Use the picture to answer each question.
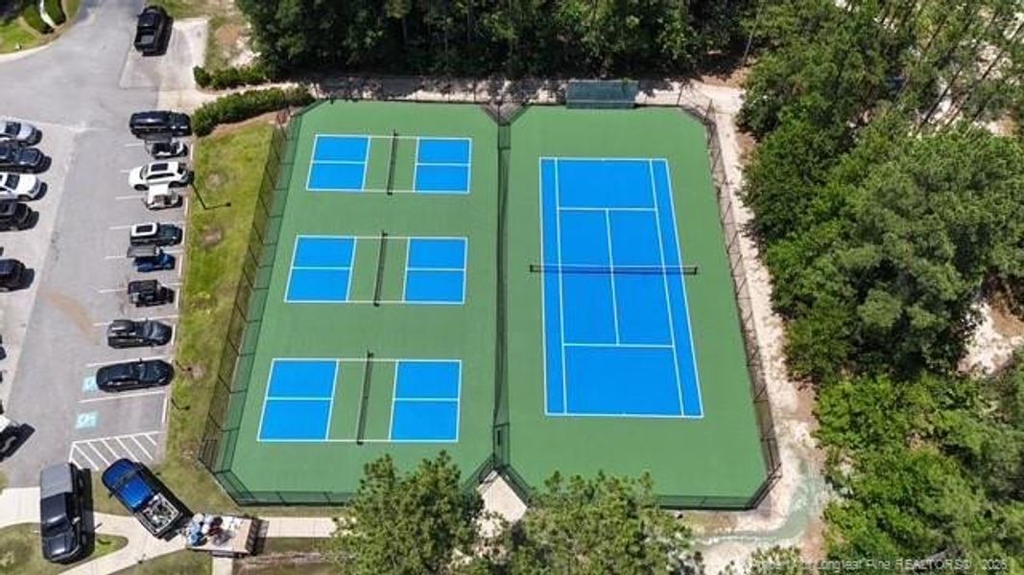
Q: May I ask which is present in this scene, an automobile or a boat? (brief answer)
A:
automobile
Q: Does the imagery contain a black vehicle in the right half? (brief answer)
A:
No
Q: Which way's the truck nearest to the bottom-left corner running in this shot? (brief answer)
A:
up and down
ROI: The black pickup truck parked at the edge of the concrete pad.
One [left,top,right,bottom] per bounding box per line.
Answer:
[133,7,170,53]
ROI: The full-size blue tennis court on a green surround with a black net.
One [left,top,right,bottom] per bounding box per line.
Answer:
[494,105,766,508]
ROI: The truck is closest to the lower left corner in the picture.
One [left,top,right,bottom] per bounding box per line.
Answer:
[36,462,85,564]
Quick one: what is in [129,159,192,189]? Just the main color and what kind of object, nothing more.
white car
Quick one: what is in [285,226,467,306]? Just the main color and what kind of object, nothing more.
blue sports court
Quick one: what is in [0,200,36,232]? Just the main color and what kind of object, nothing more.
black car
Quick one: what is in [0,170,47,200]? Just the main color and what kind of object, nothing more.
white car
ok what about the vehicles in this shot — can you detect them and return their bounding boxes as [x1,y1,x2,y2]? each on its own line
[129,159,192,189]
[124,281,173,310]
[128,247,174,276]
[109,461,192,539]
[0,200,36,232]
[147,137,188,163]
[0,117,45,146]
[102,317,174,352]
[0,170,47,200]
[36,462,85,564]
[120,222,184,252]
[127,108,193,140]
[133,7,170,53]
[141,182,182,209]
[0,422,24,451]
[93,356,174,393]
[0,257,30,291]
[0,142,51,173]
